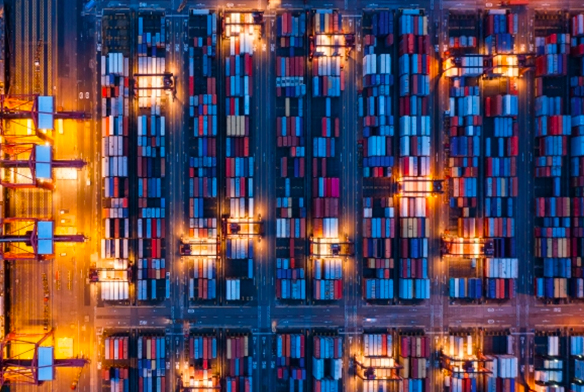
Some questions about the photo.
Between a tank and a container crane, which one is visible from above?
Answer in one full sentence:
There is a container crane in the scene.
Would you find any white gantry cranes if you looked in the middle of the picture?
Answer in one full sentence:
No, I can find no white gantry crane in the middle of the picture.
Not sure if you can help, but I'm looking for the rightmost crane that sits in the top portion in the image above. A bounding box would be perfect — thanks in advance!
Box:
[479,51,540,77]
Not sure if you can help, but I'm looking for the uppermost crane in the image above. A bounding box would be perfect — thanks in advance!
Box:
[219,9,268,38]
